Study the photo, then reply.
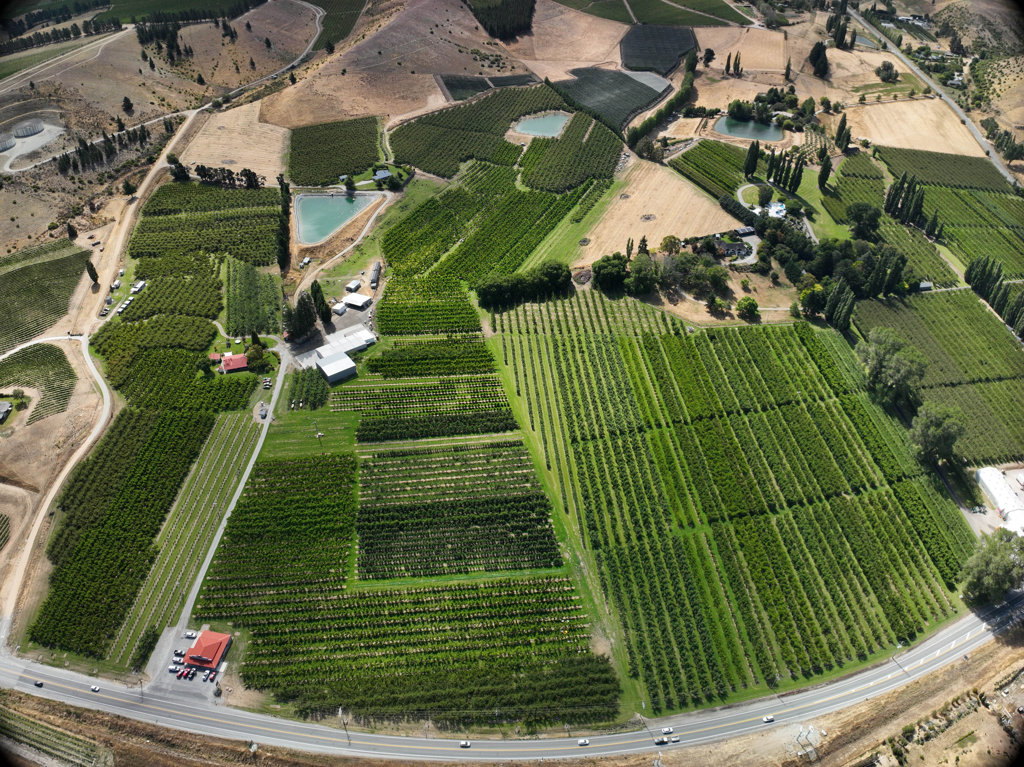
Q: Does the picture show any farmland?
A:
Yes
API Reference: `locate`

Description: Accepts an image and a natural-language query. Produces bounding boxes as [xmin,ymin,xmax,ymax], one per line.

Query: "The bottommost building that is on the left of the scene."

[183,630,232,671]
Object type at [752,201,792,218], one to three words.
house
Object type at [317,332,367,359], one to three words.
shed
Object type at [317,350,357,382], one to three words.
shed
